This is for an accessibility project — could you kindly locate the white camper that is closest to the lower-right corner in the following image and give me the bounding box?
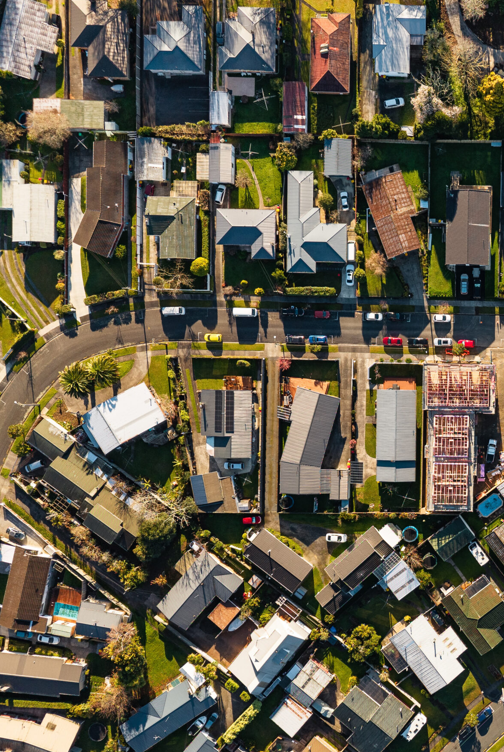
[401,708,428,741]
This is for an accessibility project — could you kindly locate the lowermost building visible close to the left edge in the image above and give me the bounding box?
[0,710,84,752]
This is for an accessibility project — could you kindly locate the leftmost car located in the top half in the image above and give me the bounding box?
[144,183,157,199]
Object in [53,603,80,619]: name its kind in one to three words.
swimming pool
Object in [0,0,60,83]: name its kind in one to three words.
house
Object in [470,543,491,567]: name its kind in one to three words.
boat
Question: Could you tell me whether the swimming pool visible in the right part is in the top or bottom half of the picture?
bottom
